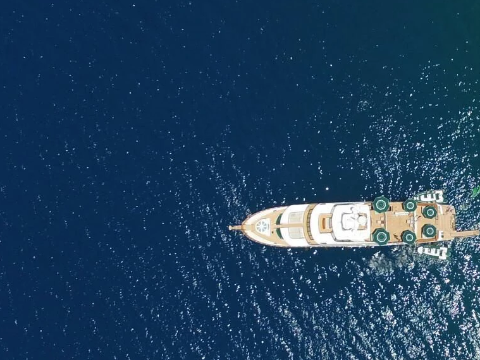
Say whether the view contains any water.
Yes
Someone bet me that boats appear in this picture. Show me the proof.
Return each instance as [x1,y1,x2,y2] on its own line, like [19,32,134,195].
[412,189,450,202]
[416,244,454,259]
[228,201,480,247]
